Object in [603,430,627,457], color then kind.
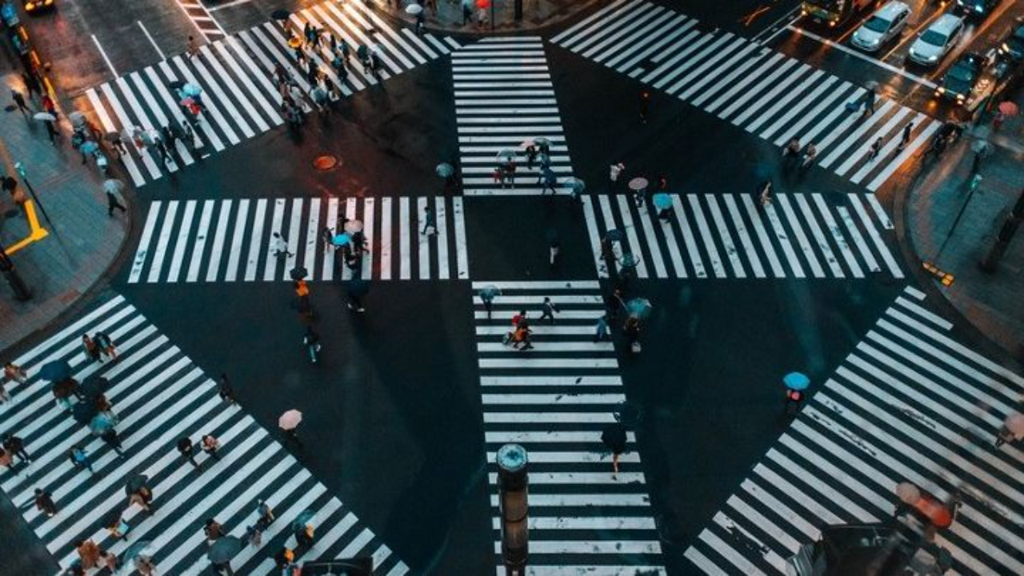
black umbrella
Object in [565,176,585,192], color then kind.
blue umbrella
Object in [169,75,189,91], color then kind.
black umbrella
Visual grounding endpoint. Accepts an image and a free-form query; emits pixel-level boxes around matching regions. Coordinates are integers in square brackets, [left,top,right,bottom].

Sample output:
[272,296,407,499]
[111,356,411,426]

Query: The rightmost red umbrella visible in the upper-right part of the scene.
[998,101,1020,118]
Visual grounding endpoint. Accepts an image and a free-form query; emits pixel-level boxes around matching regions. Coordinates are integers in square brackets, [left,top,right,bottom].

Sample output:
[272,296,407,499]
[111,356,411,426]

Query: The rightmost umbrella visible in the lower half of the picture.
[998,411,1024,437]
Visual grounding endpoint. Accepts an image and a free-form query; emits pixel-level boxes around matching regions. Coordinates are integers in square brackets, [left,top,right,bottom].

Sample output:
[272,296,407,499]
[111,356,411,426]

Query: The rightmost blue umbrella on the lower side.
[782,371,807,393]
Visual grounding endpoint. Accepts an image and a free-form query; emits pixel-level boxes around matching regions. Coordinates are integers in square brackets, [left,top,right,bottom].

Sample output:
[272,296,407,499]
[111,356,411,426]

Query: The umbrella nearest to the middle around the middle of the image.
[478,281,501,301]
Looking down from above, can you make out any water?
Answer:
No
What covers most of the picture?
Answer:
paved ground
